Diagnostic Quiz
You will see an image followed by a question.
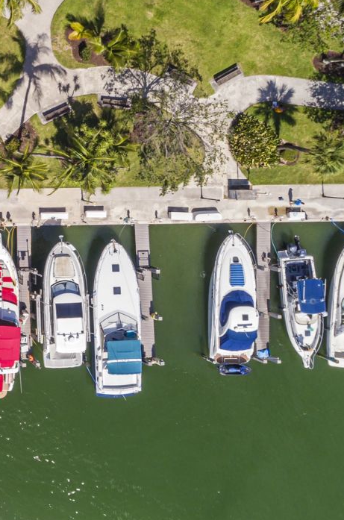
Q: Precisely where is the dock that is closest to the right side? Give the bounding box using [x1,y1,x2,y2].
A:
[254,224,272,351]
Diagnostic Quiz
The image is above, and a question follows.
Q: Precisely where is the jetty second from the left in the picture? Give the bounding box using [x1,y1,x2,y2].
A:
[133,226,155,359]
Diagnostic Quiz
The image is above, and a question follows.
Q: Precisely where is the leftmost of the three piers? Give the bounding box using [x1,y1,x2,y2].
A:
[16,227,33,359]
